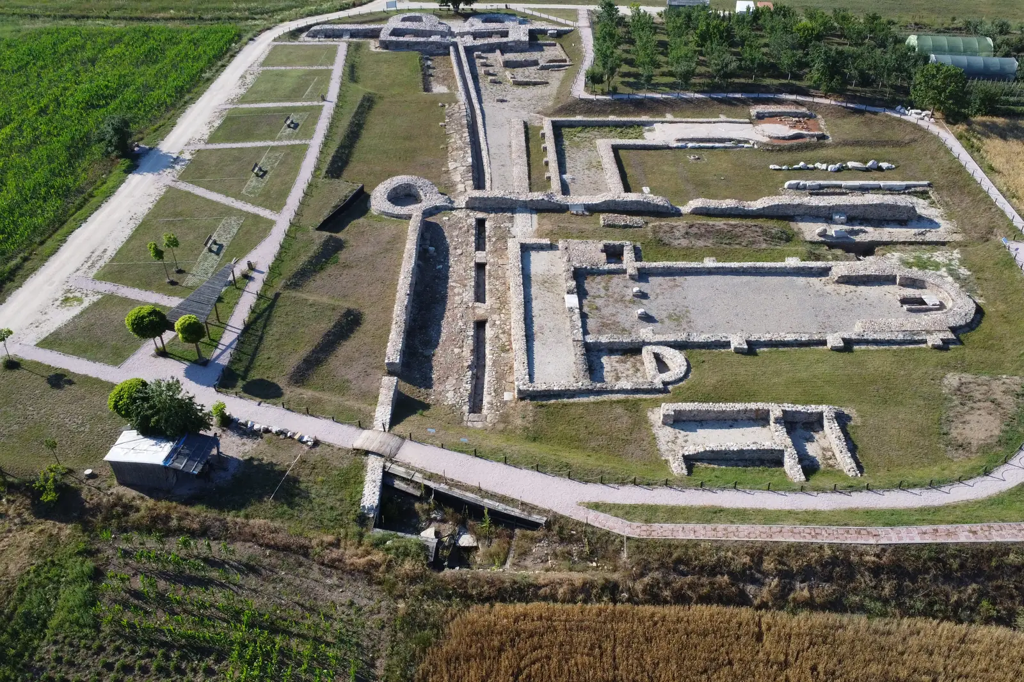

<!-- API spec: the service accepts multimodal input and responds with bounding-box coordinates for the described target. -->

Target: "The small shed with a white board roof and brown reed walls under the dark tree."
[103,431,227,497]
